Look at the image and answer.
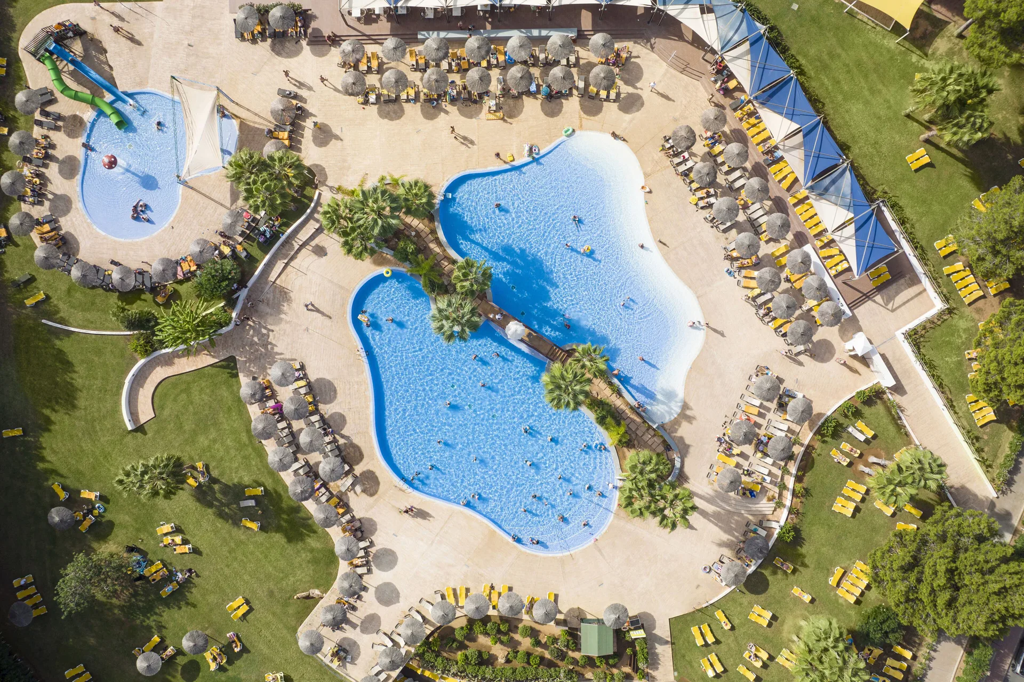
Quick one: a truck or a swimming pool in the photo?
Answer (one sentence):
I can see a swimming pool in this picture.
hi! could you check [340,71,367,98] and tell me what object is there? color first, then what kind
gray umbrella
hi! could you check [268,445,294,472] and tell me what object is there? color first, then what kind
gray umbrella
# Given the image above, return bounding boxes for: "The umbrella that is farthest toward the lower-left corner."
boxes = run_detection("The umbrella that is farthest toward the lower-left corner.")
[9,599,38,626]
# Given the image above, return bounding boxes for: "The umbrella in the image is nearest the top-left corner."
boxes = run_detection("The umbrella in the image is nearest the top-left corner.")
[17,89,46,116]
